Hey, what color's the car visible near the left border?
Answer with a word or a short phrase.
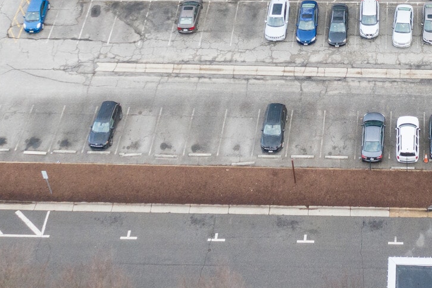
blue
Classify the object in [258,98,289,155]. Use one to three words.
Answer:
car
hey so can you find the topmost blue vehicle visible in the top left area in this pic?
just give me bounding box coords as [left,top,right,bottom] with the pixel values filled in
[20,0,52,35]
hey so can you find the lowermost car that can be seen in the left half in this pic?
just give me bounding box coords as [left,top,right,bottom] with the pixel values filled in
[87,95,124,152]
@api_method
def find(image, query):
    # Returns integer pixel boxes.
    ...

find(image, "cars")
[357,0,381,40]
[87,95,124,152]
[361,112,387,164]
[426,109,432,162]
[263,0,290,42]
[295,0,319,42]
[20,0,52,35]
[395,113,421,165]
[420,2,432,46]
[390,4,415,48]
[325,2,350,46]
[258,98,289,155]
[175,0,204,36]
